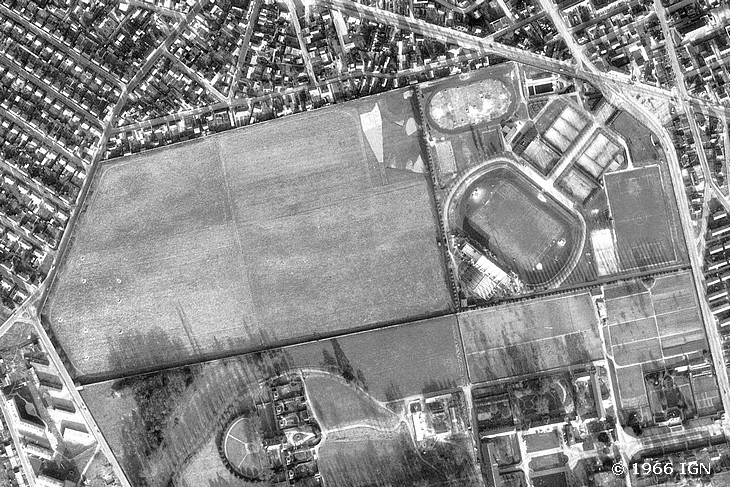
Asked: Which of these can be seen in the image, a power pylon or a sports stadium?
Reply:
sports stadium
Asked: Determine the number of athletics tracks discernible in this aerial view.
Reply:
2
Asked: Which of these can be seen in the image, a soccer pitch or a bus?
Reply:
soccer pitch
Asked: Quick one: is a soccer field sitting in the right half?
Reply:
Yes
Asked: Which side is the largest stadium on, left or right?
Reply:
right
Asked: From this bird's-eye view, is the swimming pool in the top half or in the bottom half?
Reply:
top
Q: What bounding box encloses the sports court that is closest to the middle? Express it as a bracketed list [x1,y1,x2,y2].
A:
[433,138,460,176]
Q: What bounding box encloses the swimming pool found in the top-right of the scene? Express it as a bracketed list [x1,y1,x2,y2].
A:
[525,76,557,98]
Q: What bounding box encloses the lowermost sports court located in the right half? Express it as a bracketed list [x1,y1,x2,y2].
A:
[588,225,620,280]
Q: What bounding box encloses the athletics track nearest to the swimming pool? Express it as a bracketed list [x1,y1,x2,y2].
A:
[423,71,517,137]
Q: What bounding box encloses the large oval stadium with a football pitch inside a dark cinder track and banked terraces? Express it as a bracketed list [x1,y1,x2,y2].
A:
[451,163,582,287]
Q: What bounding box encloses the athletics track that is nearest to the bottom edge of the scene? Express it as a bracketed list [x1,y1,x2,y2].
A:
[460,173,573,277]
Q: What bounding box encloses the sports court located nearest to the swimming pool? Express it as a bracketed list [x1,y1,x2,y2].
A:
[540,103,592,156]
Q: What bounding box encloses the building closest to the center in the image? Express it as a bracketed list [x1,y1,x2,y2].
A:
[460,265,497,299]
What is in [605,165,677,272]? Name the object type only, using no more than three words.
soccer field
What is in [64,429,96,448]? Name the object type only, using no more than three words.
building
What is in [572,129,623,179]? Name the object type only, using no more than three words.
sports court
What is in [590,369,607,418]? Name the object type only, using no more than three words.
shed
